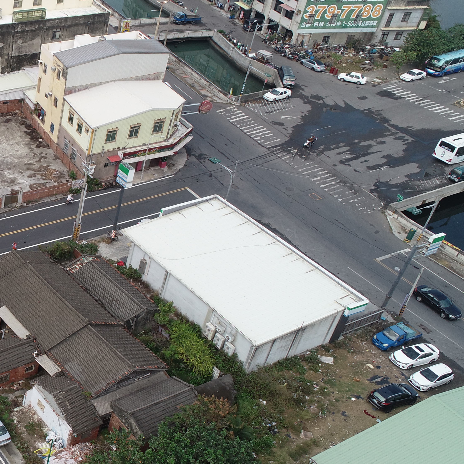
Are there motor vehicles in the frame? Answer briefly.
Yes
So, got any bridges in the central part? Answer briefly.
No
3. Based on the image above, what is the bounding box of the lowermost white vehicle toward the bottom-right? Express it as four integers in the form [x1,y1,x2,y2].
[407,363,460,392]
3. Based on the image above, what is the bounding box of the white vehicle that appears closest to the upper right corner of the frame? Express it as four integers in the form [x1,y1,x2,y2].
[399,68,431,82]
